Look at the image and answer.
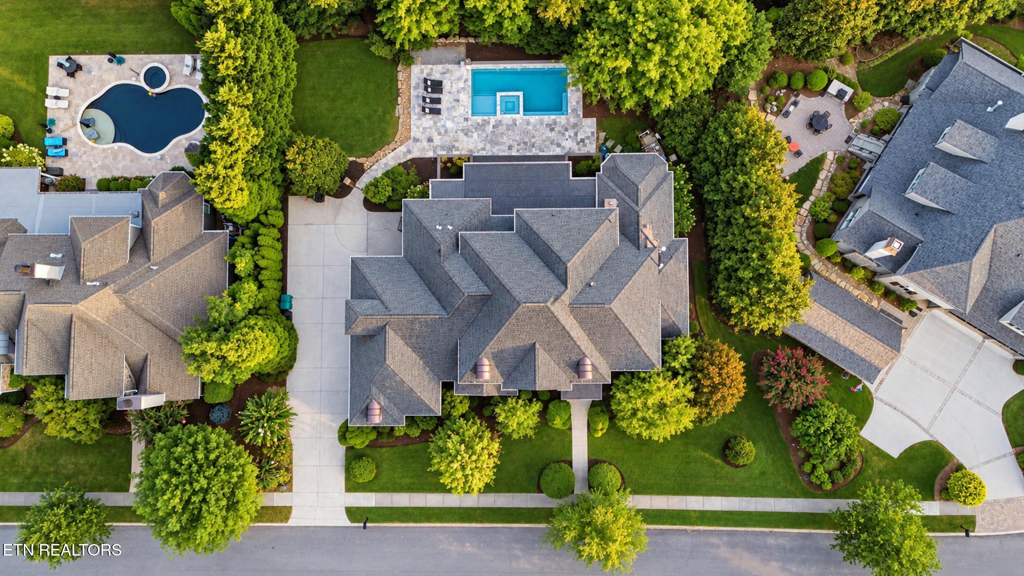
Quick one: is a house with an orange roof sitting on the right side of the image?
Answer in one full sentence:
No, no house with an orange roof appears on the right side of the image.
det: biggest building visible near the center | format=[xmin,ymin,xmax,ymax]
[344,152,690,427]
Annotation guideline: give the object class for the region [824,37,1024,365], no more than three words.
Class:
house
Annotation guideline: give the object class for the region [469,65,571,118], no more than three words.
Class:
swimming pool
